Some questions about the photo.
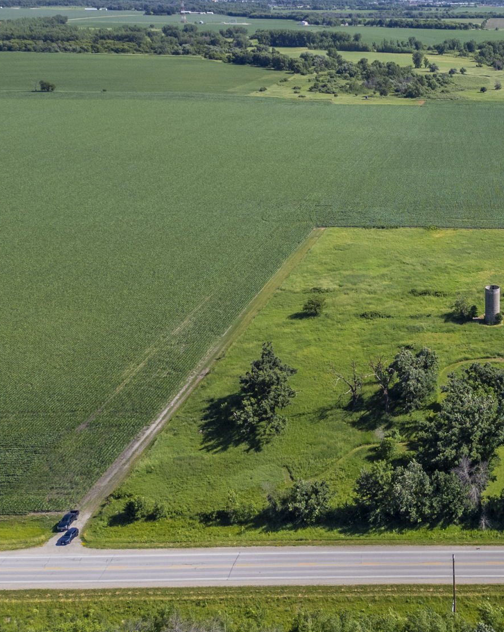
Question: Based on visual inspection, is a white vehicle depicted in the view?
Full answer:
No, the scene contains no white vehicle.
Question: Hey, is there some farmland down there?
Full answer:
Yes, there's farmland in this view.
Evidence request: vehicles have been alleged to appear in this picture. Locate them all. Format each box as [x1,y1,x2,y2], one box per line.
[57,526,79,544]
[57,509,82,529]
